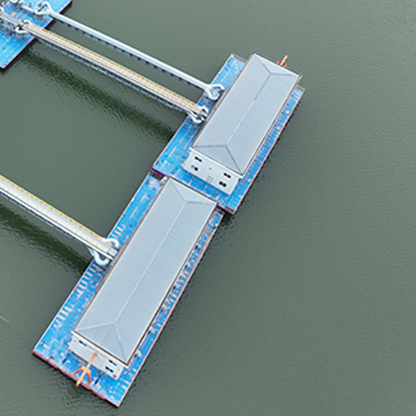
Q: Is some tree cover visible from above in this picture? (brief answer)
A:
No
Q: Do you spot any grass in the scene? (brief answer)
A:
No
